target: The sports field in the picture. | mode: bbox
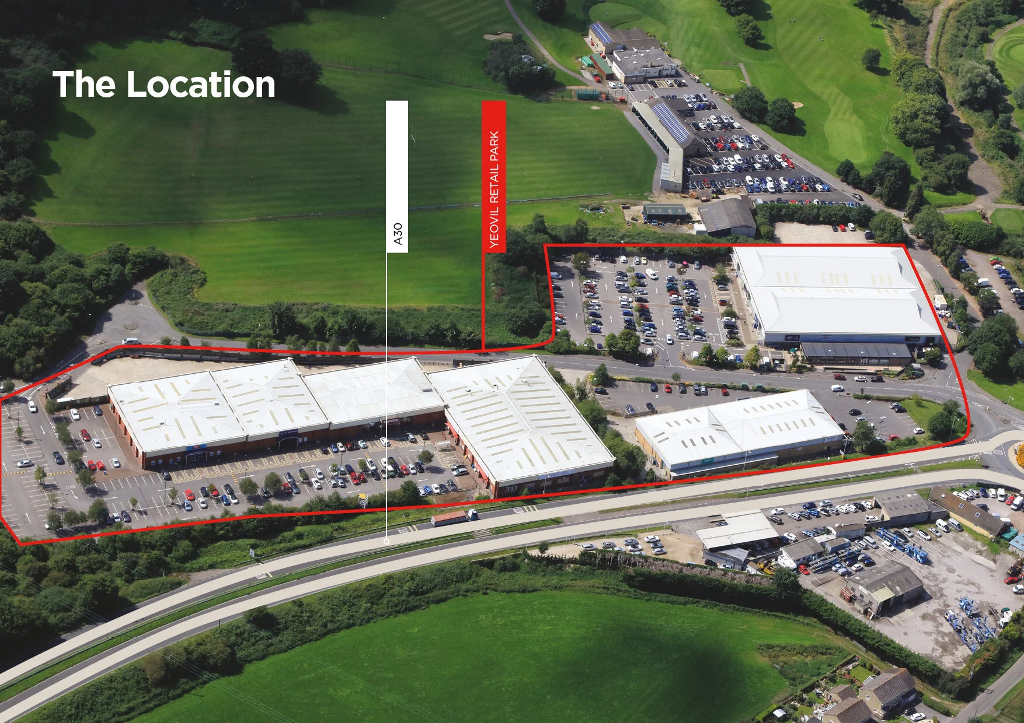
[30,32,655,223]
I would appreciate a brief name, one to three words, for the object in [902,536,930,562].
truck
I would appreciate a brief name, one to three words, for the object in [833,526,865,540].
building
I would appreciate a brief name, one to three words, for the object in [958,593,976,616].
vehicle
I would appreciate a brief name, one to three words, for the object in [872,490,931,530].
shed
